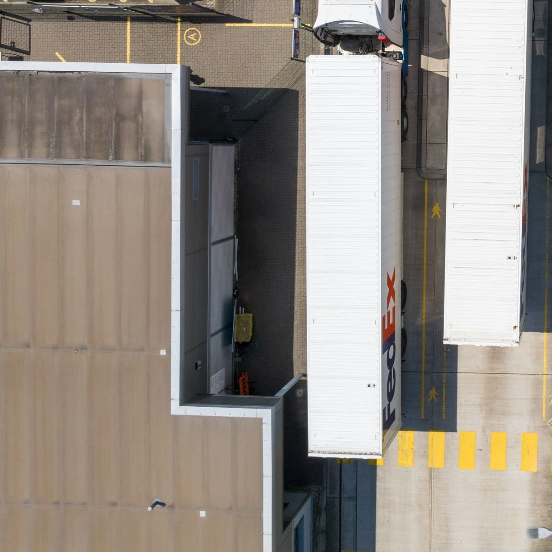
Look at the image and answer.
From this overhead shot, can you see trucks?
Yes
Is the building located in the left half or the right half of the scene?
left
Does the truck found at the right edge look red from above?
No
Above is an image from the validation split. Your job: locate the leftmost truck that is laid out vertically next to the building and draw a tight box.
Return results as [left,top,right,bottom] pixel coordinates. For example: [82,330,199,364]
[305,0,406,457]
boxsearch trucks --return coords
[305,0,406,457]
[444,0,529,345]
